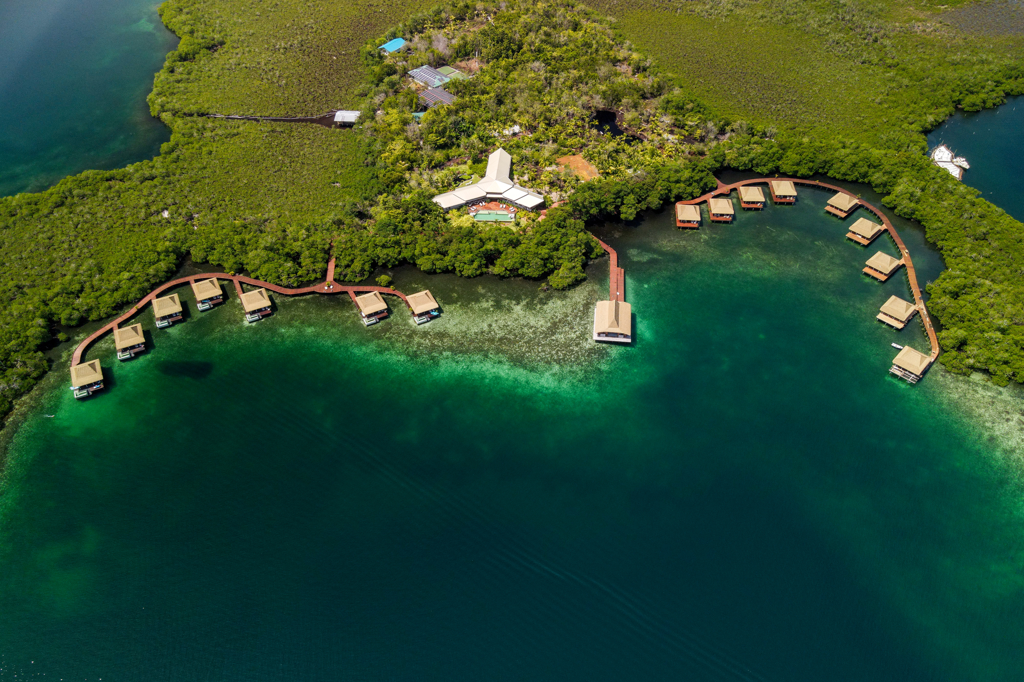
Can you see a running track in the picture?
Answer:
No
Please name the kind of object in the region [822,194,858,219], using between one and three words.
shed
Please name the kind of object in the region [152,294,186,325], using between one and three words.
shed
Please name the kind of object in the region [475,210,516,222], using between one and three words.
swimming pool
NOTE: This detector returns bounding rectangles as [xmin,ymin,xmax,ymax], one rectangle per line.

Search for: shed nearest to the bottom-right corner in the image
[884,346,932,387]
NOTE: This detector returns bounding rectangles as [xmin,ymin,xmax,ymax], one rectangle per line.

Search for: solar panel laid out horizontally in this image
[409,65,449,86]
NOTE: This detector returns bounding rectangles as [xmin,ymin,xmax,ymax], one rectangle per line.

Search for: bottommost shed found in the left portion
[71,359,108,396]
